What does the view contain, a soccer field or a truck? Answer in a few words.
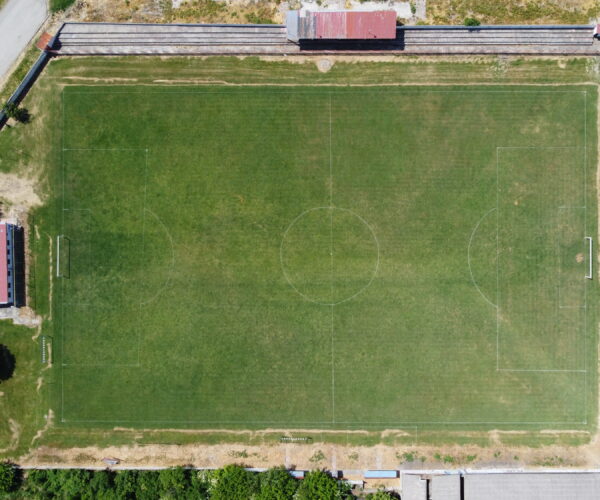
soccer field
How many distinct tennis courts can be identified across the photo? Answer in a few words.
0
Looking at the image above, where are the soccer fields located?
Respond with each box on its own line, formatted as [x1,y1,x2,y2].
[53,87,595,446]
